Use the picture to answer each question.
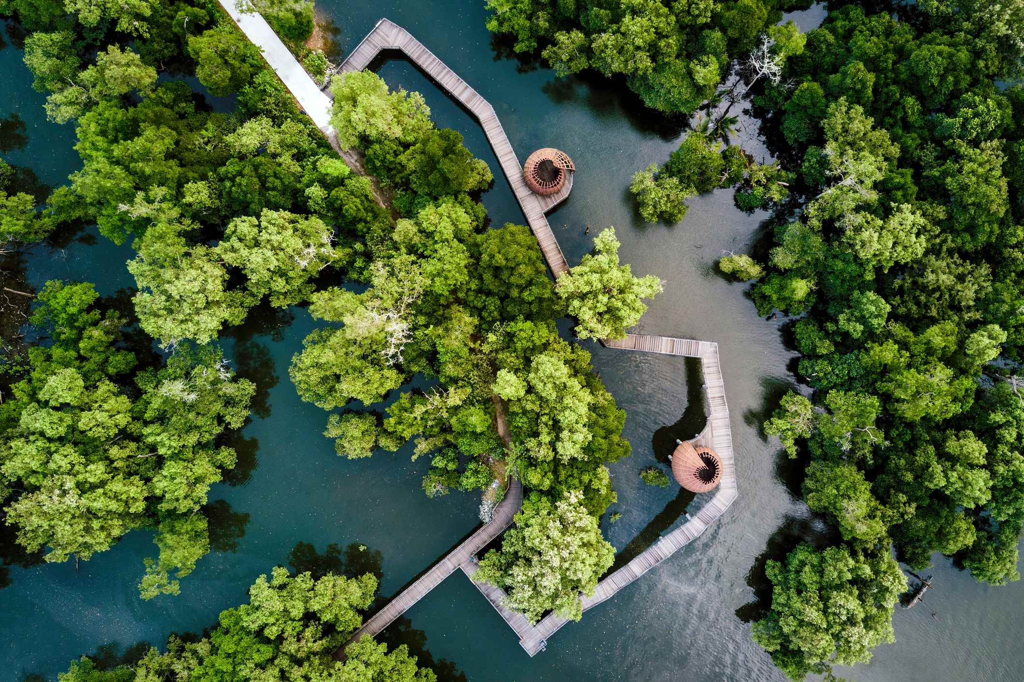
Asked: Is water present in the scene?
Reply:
Yes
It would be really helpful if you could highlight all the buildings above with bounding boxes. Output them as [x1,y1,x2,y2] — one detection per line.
[675,441,729,496]
[524,144,576,194]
